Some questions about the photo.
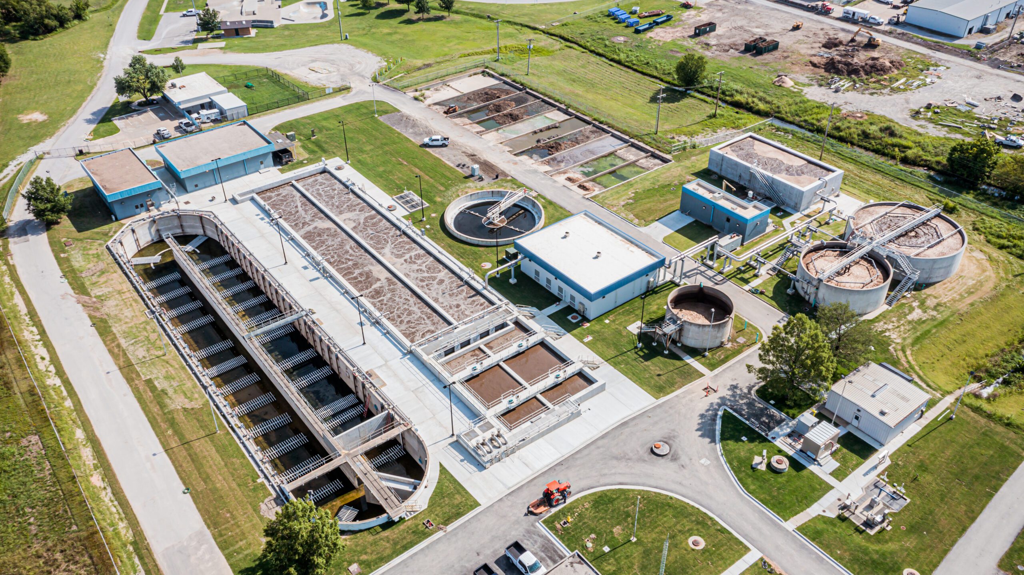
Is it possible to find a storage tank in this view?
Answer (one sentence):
Yes, this view includes a storage tank.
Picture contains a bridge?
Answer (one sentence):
Yes, the frame does contain a bridge.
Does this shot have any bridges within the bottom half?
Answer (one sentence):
Yes, I can see a bridge within the bottom half.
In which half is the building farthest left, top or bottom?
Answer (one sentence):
The building farthest left is in the top half of the image.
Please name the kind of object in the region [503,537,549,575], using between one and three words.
truck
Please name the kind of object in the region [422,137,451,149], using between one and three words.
vehicle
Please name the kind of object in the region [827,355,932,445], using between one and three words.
building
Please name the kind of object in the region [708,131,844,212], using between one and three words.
storage tank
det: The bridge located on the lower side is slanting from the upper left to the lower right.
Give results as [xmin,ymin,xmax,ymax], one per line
[348,455,406,519]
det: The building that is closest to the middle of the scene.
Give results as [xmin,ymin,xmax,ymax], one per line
[514,210,665,319]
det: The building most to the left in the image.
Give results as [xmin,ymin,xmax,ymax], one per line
[81,147,165,219]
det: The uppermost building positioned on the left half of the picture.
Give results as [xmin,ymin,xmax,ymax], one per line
[219,20,258,35]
